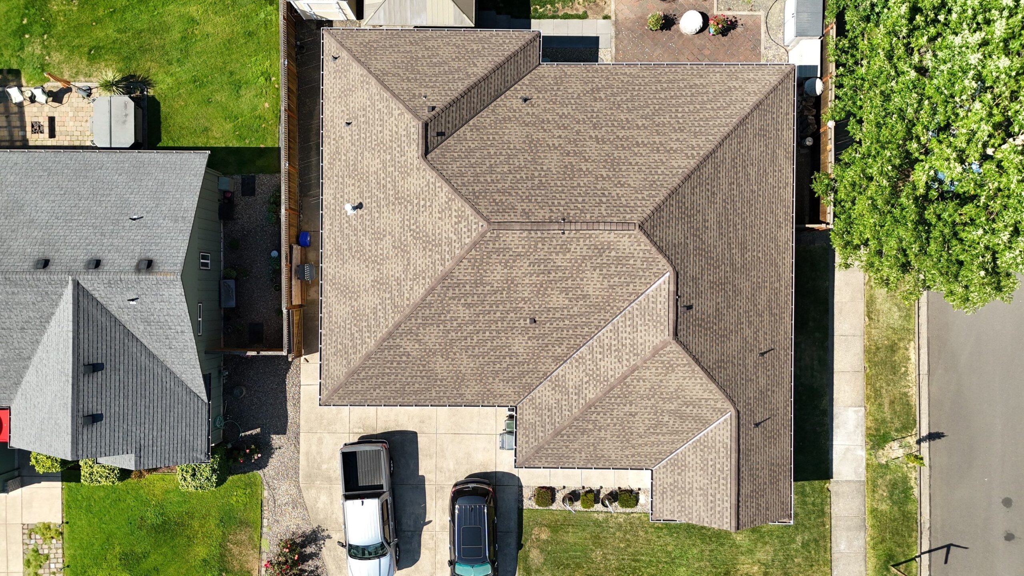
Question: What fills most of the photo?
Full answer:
The bulk of the photo consists of buildings.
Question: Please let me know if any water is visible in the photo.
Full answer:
No, water can't be seen anywhere here.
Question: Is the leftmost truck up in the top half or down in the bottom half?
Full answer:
You can find the leftmost truck in the bottom half.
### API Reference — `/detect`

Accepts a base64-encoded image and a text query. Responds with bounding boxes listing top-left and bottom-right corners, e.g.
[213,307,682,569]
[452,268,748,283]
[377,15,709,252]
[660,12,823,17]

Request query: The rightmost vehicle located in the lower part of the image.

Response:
[445,475,503,576]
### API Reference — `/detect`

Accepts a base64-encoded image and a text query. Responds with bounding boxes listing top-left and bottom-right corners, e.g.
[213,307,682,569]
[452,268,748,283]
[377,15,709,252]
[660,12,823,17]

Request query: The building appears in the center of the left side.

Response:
[0,149,223,495]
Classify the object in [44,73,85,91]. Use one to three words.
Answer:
umbrella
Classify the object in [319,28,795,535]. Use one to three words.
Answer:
house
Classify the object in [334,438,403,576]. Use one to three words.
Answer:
truck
